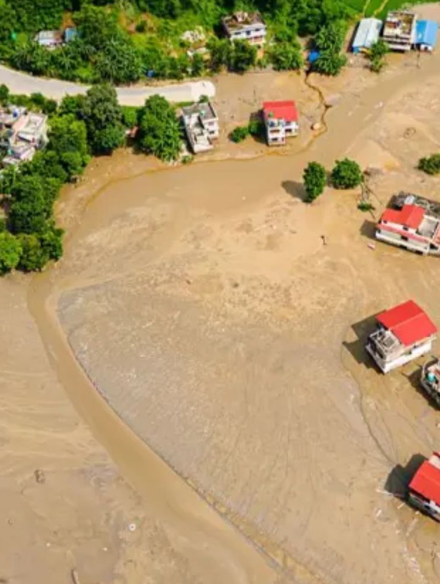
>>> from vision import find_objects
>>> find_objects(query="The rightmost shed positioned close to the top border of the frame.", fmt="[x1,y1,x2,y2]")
[416,20,437,54]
